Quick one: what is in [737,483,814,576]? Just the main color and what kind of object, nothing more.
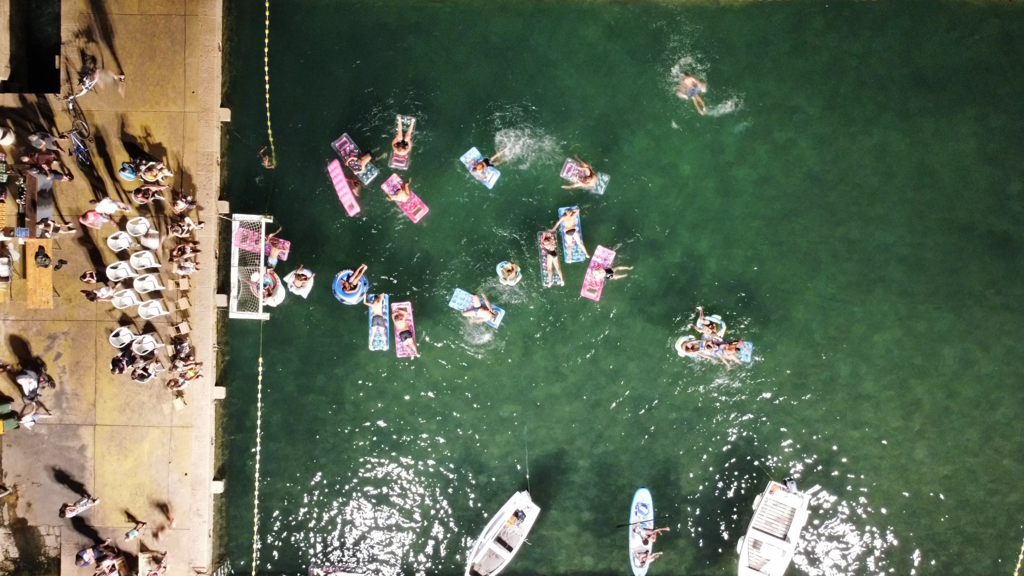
white boat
